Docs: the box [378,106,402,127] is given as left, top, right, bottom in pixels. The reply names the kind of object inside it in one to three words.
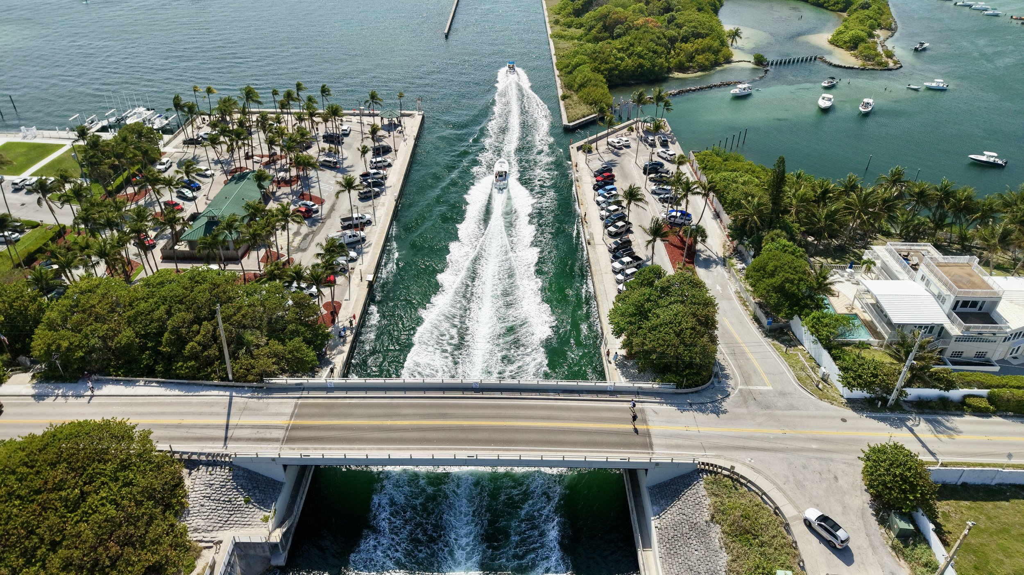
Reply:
gazebo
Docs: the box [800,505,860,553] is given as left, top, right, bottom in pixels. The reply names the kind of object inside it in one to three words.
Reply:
car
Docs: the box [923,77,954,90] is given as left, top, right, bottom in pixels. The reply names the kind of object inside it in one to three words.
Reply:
boat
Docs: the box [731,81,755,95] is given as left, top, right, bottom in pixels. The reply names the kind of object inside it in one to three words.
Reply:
boat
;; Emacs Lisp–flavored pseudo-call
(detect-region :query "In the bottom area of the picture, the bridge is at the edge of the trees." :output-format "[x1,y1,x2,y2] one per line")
[234,377,697,496]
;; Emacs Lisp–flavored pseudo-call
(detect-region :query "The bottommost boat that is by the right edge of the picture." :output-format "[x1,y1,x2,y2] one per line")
[962,142,1019,171]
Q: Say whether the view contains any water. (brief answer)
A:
Yes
